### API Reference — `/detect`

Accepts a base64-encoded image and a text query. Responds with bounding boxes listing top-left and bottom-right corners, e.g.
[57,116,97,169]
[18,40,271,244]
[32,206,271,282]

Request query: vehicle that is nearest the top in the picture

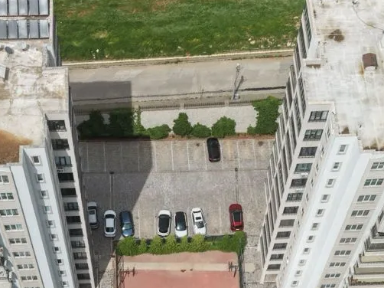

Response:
[207,135,221,163]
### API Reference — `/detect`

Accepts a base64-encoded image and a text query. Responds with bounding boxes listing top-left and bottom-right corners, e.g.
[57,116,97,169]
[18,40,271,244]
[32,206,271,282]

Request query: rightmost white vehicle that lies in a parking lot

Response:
[191,207,207,234]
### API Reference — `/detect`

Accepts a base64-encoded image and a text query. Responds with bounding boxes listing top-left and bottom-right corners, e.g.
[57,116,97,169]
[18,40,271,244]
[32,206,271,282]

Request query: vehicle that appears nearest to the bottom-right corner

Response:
[230,203,244,232]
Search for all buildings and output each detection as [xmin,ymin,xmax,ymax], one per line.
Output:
[257,0,384,288]
[0,0,96,288]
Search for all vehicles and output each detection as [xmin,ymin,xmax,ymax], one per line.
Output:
[175,210,189,235]
[103,209,117,237]
[230,203,244,232]
[157,209,171,237]
[191,207,207,234]
[89,201,100,229]
[120,209,134,238]
[207,135,221,163]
